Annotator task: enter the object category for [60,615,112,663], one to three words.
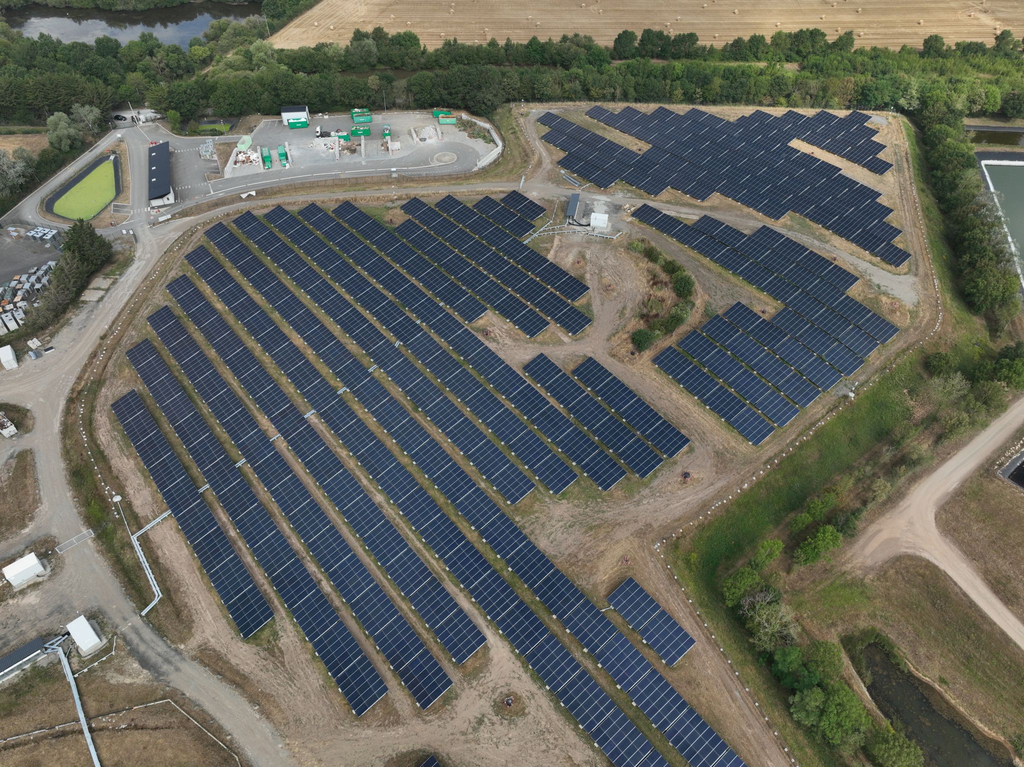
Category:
building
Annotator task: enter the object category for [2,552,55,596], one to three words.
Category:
building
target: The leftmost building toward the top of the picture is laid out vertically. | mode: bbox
[142,138,178,207]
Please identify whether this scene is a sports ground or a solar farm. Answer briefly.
solar farm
